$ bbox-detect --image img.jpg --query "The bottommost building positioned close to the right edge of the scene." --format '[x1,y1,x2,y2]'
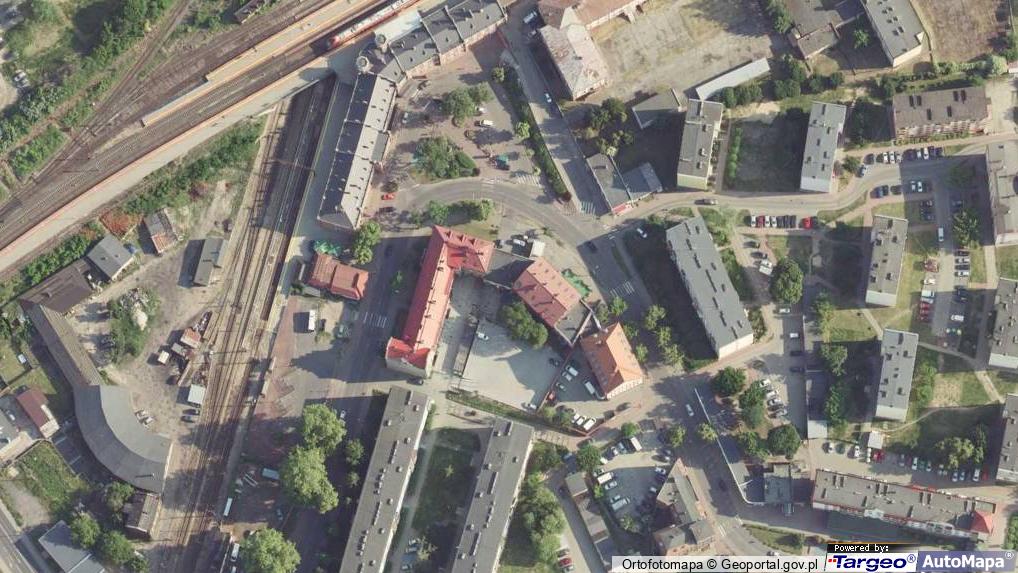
[811,470,996,542]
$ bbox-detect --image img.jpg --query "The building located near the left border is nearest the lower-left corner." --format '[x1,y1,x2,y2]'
[39,520,108,573]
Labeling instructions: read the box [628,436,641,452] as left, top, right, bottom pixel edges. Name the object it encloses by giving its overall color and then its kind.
white vehicle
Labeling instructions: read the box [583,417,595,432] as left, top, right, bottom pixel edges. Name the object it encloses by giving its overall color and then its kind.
white vehicle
